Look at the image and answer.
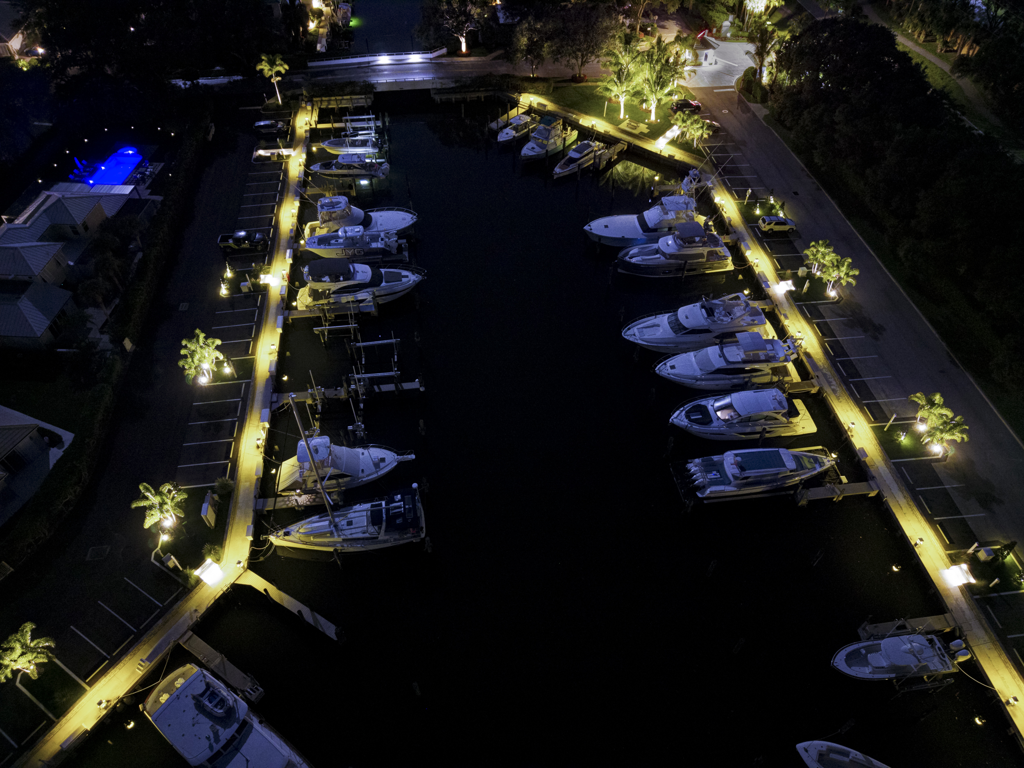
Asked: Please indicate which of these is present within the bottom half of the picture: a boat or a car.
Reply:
boat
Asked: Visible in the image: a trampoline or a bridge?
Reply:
bridge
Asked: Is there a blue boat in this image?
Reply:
Yes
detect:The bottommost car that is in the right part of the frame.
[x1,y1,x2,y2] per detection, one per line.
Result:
[760,215,798,233]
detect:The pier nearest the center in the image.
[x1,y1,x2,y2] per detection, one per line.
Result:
[374,380,420,399]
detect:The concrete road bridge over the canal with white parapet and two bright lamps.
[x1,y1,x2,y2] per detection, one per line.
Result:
[305,42,448,90]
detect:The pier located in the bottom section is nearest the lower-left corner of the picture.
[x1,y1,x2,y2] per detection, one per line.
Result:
[179,629,258,696]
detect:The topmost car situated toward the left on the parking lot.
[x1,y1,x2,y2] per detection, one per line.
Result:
[254,120,285,136]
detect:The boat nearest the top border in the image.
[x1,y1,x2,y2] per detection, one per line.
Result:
[338,3,352,30]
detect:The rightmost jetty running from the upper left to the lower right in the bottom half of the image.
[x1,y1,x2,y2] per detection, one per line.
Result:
[236,570,344,647]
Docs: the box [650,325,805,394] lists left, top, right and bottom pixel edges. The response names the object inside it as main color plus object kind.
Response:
blue boat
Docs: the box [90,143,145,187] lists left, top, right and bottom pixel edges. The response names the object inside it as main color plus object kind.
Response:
blue swimming pool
